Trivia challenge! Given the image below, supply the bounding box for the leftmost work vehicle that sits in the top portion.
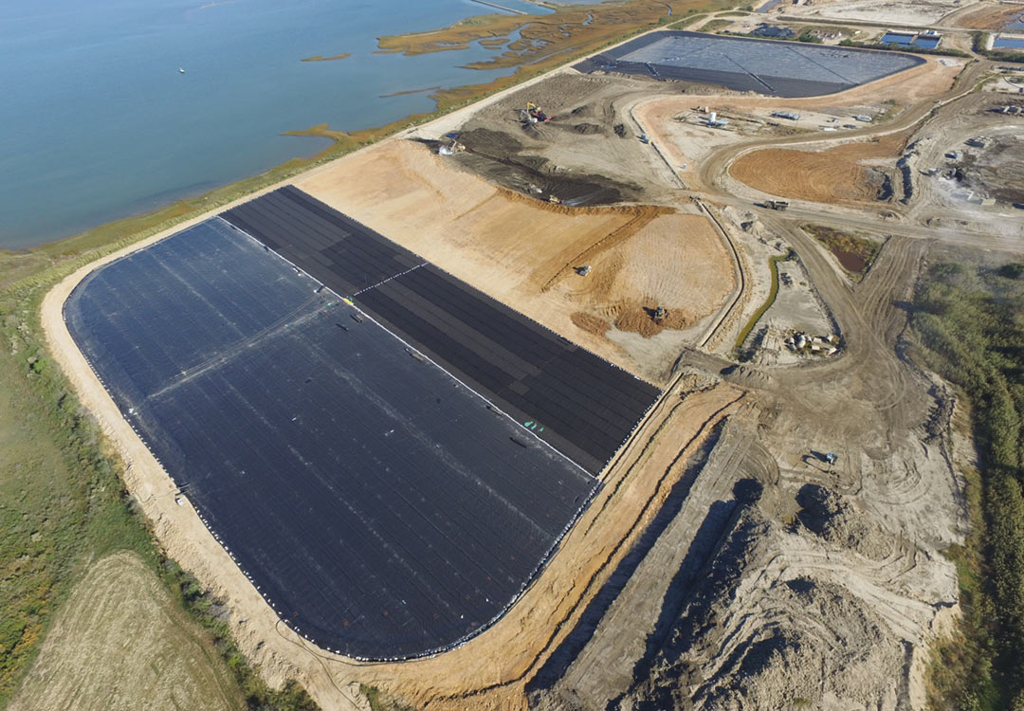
[446,136,469,151]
